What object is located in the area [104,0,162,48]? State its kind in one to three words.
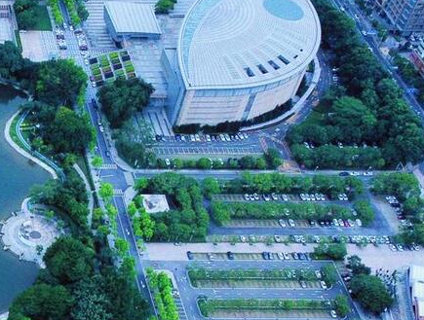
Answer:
building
